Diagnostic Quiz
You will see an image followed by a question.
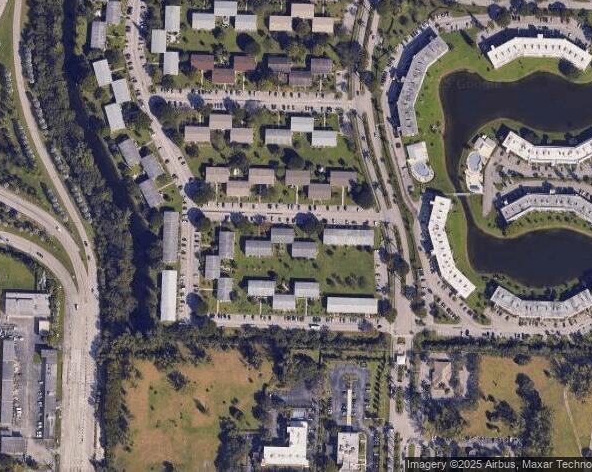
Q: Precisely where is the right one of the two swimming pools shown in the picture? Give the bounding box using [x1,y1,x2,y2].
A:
[465,150,487,200]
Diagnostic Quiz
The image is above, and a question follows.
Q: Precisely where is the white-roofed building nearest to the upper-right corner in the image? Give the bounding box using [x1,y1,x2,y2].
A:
[487,34,592,71]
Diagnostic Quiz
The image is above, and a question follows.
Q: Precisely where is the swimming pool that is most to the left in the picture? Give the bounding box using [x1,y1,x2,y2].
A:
[407,143,435,182]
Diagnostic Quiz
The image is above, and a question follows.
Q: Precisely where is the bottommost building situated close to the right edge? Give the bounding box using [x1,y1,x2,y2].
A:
[490,286,592,320]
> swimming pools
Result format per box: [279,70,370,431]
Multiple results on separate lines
[407,143,435,182]
[465,150,487,200]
